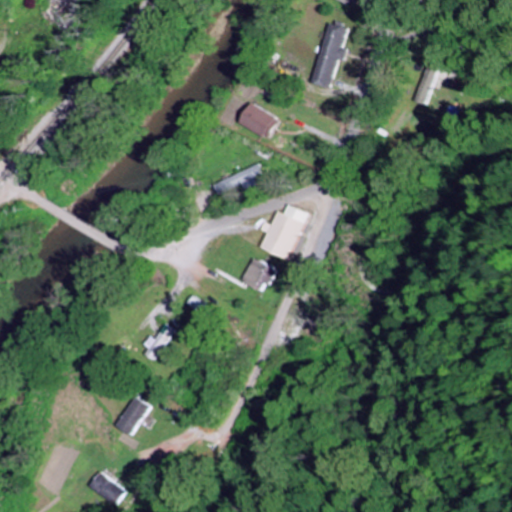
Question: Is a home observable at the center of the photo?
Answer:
Yes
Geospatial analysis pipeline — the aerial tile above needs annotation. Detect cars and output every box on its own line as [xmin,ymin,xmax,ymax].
[206,268,217,276]
[294,120,306,129]
[413,60,422,73]
[254,220,266,230]
[206,294,218,304]
[335,80,348,89]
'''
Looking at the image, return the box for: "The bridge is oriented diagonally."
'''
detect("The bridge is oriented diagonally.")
[21,180,122,252]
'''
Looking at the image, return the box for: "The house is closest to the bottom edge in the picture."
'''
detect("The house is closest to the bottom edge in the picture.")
[91,468,129,505]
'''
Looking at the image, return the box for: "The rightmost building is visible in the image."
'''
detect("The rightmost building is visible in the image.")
[414,68,452,106]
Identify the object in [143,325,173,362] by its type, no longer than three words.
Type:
house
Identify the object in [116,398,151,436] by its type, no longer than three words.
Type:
house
